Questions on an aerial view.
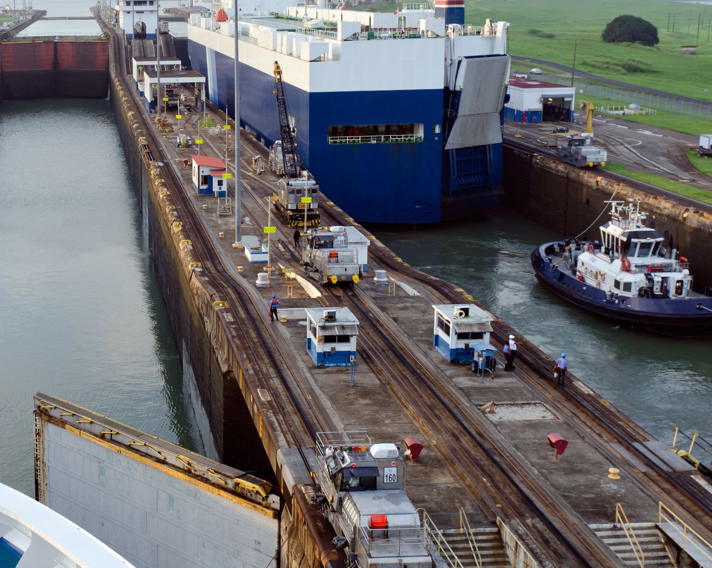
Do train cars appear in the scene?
Yes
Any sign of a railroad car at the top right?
Yes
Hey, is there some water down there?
Yes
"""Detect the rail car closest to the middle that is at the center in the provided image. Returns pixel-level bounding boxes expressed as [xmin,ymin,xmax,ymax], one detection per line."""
[298,220,357,283]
